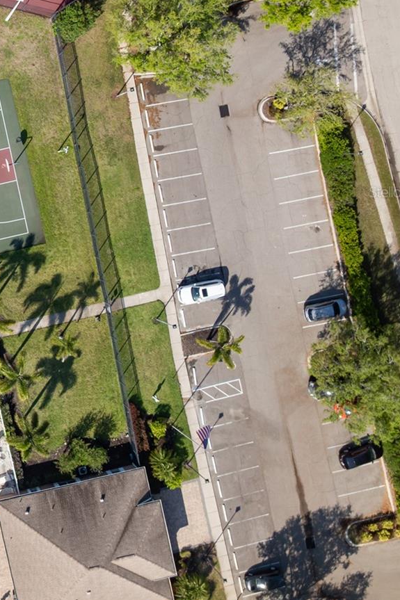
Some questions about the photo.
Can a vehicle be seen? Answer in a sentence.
Yes, this view includes a vehicle.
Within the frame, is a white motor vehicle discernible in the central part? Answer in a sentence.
Yes, a white motor vehicle appears in the central part.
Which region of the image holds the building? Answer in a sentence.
The building appears toward the bottom left of the photo.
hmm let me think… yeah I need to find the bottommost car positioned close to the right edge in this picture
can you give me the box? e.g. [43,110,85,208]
[335,438,383,464]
